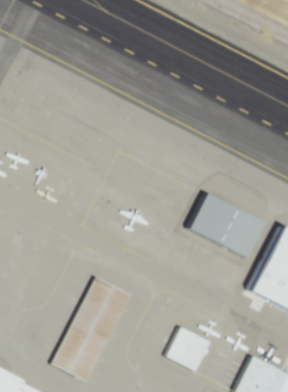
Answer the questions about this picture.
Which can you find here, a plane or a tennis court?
plane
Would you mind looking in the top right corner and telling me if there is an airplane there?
No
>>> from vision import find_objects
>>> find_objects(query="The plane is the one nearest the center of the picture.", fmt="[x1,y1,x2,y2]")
[121,209,149,231]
